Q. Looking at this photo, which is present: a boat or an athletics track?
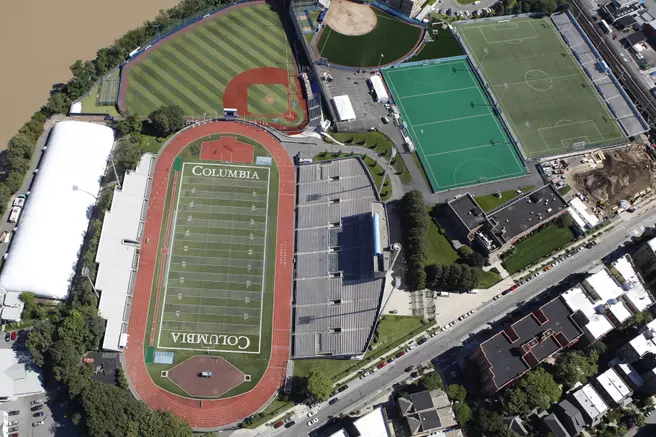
athletics track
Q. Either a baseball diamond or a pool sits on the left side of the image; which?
baseball diamond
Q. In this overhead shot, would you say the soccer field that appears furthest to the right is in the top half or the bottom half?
top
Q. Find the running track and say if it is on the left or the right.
left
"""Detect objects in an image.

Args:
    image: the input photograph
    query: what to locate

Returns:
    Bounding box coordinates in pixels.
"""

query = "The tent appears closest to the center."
[332,95,356,124]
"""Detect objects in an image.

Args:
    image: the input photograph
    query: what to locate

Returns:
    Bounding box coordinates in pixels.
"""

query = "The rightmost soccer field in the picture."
[455,15,630,158]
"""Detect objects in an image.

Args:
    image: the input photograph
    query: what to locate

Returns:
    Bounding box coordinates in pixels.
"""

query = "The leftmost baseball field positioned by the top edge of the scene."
[118,0,308,128]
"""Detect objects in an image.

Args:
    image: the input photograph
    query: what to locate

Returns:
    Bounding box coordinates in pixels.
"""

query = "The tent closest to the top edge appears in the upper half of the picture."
[369,76,388,106]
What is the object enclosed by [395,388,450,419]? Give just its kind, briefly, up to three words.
house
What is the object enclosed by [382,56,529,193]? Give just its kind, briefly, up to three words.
sports field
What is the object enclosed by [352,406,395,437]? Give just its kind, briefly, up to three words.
building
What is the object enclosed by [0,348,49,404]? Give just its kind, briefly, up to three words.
building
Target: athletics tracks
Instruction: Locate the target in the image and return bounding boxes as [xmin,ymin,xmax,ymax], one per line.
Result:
[120,117,297,434]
